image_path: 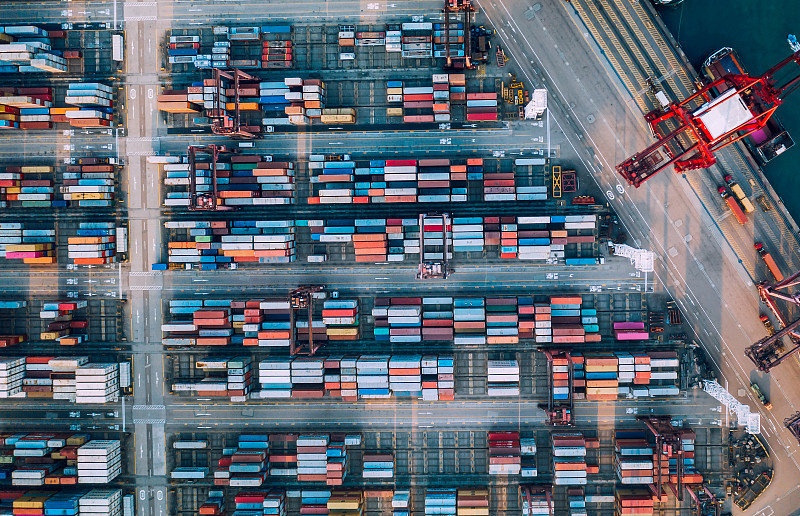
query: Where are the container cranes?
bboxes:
[537,342,576,424]
[288,281,329,356]
[516,482,551,516]
[441,0,472,72]
[417,208,452,278]
[745,252,800,378]
[617,46,800,194]
[213,68,261,141]
[636,414,684,502]
[188,145,240,211]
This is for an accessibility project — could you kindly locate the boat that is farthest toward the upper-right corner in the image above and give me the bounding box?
[785,31,799,53]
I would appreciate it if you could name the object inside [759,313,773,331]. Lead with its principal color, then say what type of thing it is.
red vehicle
